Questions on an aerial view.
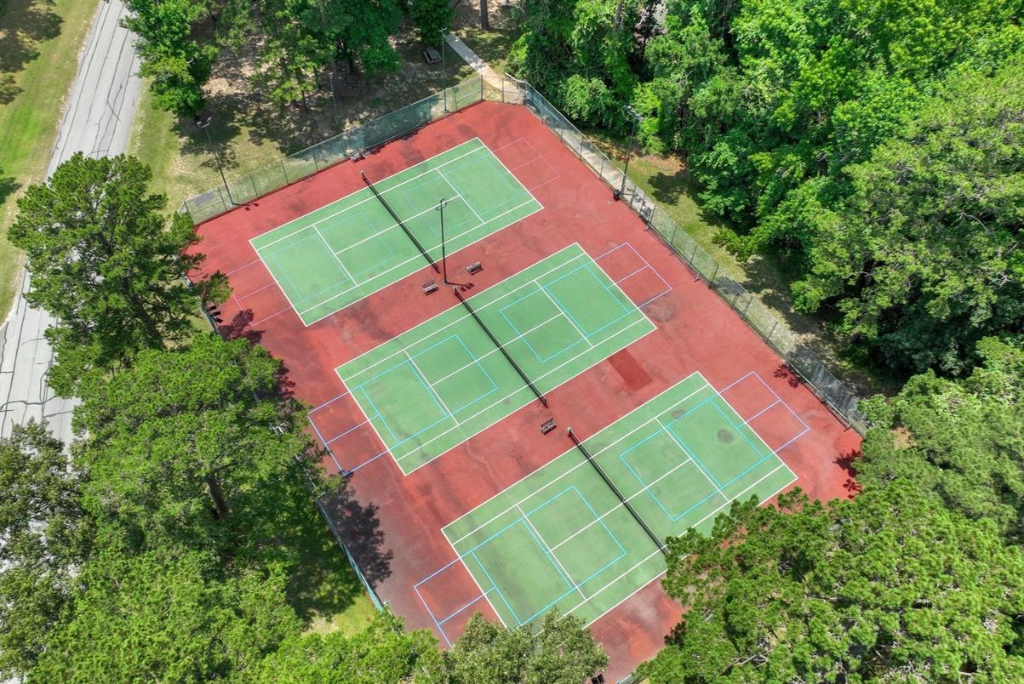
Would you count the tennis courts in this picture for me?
three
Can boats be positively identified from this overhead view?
No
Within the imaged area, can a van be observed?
No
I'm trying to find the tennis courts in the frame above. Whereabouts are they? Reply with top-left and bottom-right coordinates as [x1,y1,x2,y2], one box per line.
[222,138,561,326]
[309,243,672,476]
[414,372,809,663]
